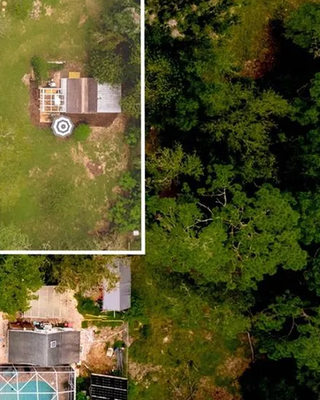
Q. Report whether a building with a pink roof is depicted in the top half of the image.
No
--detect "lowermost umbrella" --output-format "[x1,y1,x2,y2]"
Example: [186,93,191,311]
[50,116,71,137]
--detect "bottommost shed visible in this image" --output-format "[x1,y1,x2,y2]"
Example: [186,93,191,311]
[7,325,80,370]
